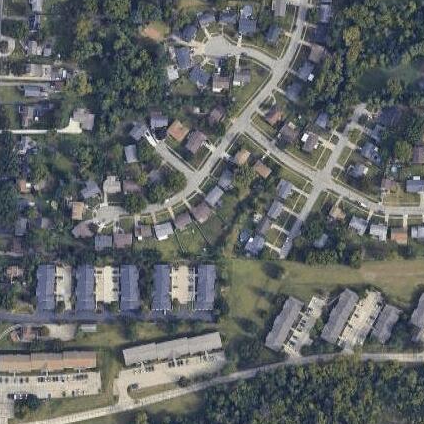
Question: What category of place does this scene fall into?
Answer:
residential area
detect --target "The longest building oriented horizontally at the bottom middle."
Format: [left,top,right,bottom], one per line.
[123,332,223,369]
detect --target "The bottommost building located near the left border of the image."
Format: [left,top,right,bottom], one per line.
[0,351,96,376]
